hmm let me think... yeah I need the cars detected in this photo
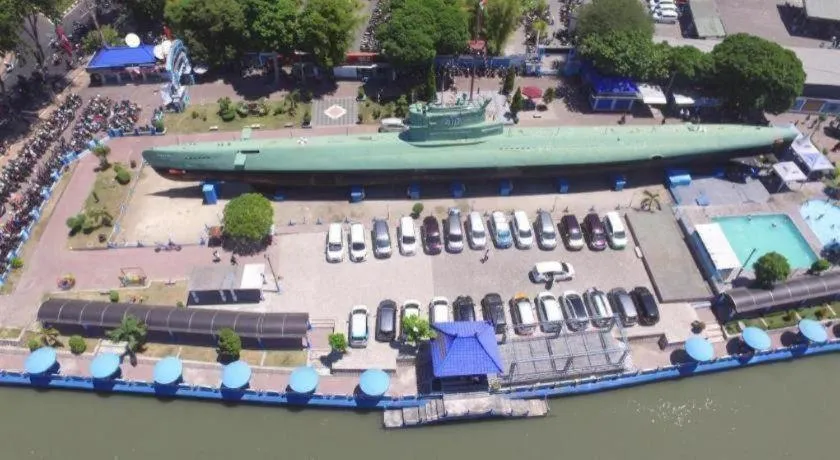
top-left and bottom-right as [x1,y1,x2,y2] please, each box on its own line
[374,302,397,344]
[400,303,422,337]
[629,288,661,327]
[324,224,345,261]
[482,293,507,334]
[428,298,450,324]
[530,262,573,289]
[533,212,559,248]
[662,11,678,25]
[583,289,614,330]
[372,221,392,257]
[562,292,590,332]
[655,2,676,13]
[422,218,443,254]
[398,218,418,255]
[608,289,637,328]
[347,224,368,261]
[580,214,607,250]
[467,212,488,248]
[511,212,535,247]
[489,212,512,248]
[559,215,585,251]
[347,310,369,345]
[451,294,475,322]
[537,294,564,333]
[602,212,628,247]
[444,215,466,251]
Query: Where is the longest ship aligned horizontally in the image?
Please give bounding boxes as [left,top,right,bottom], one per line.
[144,67,796,189]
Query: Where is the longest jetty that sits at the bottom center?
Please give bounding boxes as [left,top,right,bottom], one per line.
[384,394,550,430]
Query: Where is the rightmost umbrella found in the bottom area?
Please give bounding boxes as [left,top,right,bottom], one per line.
[794,319,827,347]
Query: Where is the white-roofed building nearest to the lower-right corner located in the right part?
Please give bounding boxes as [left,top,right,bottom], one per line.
[690,222,745,284]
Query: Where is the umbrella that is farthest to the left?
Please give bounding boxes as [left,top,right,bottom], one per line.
[28,348,61,377]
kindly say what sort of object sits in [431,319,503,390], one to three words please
building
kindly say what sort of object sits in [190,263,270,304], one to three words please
shed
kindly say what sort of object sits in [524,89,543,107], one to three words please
umbrella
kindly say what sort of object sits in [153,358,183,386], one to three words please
umbrella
